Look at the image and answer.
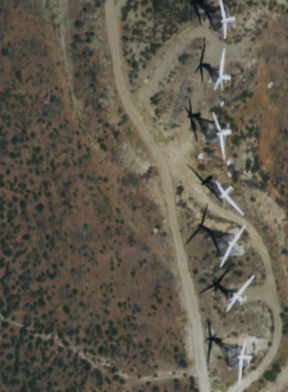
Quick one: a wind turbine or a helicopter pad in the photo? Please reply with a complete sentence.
There is a wind turbine in the scene.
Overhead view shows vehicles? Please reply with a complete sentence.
No, I can see no vehicle in this picture.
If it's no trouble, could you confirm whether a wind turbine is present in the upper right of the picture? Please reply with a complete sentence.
Yes, a wind turbine shows up in the upper right of the picture.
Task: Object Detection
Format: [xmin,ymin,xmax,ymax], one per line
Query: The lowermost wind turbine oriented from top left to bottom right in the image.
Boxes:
[212,182,245,216]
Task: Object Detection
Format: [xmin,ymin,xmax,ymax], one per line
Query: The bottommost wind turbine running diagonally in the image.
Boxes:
[226,272,254,310]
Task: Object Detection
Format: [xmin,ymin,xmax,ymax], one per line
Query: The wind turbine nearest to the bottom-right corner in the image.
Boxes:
[226,338,254,386]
